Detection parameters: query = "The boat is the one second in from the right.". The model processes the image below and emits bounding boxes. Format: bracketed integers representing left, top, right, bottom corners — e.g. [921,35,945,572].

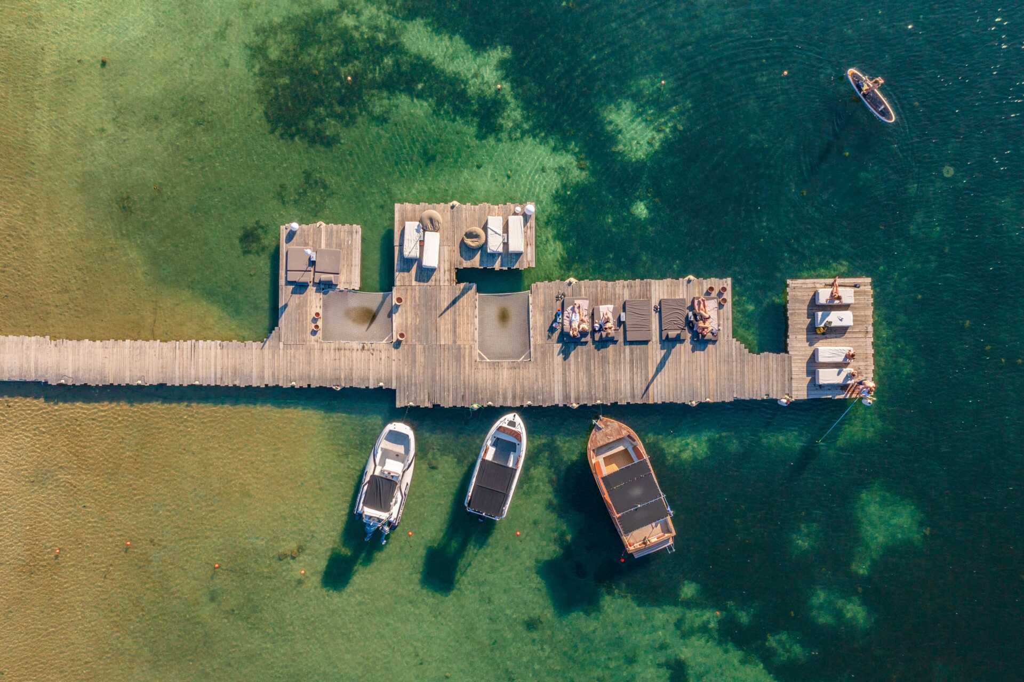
[465,412,526,521]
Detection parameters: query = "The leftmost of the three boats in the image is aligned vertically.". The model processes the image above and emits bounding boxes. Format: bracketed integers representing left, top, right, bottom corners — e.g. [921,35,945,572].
[354,422,415,541]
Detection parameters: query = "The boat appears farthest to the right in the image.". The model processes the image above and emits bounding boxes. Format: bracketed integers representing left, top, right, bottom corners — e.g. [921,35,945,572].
[588,415,676,554]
